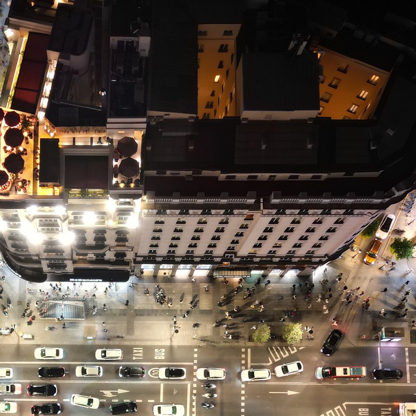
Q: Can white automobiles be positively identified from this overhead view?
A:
Yes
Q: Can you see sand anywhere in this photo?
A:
No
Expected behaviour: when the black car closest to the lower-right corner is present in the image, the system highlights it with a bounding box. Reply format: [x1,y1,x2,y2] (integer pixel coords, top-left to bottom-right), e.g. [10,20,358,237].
[371,368,403,381]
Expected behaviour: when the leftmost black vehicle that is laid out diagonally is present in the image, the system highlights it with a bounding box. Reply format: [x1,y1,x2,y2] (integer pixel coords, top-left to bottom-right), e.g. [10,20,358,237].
[319,328,343,358]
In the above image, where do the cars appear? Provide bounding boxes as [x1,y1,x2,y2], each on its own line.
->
[375,215,394,242]
[363,237,382,266]
[37,365,66,379]
[75,364,103,379]
[157,366,187,381]
[0,401,18,414]
[28,383,57,397]
[0,368,14,380]
[154,404,183,416]
[371,368,403,381]
[69,394,100,410]
[241,369,271,382]
[319,328,343,358]
[118,365,147,379]
[0,383,25,396]
[273,360,305,379]
[31,402,61,416]
[34,347,64,361]
[95,348,123,361]
[196,368,226,381]
[108,401,138,416]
